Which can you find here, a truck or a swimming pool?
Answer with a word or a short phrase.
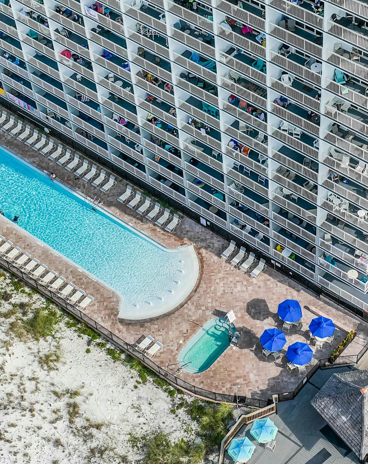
swimming pool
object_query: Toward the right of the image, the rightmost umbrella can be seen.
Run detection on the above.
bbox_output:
[307,317,337,344]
